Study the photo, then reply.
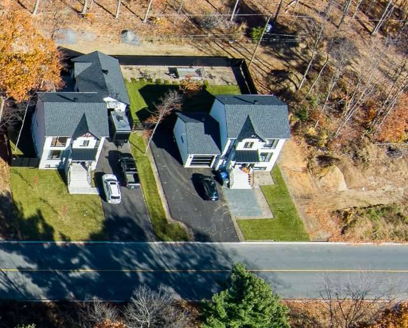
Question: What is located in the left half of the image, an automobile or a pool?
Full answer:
What appears in the left half of the image is an automobile.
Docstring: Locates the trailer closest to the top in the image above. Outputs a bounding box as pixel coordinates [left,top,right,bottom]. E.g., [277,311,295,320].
[109,110,133,151]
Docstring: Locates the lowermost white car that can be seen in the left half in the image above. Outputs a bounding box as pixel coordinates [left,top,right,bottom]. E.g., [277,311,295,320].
[101,174,123,204]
